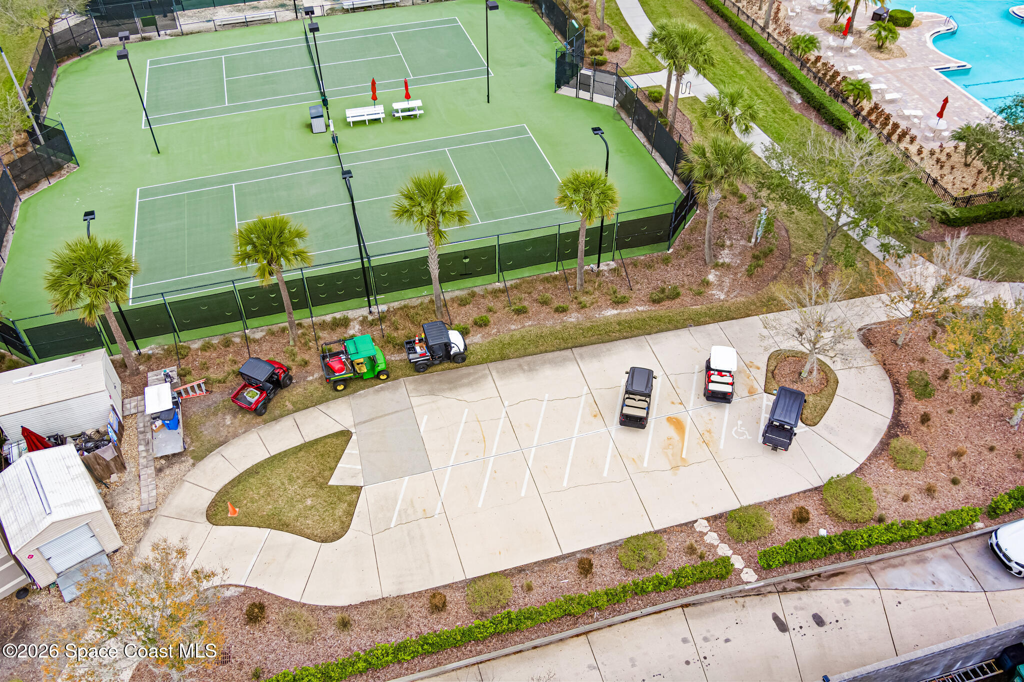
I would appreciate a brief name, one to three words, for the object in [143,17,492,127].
tennis court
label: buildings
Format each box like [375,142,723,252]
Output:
[0,443,124,601]
[0,347,123,444]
